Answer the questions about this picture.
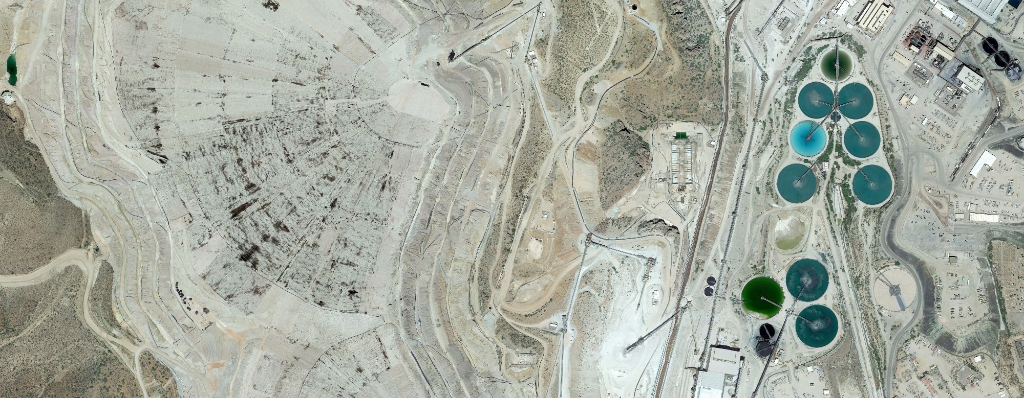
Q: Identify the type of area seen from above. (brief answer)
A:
industrial area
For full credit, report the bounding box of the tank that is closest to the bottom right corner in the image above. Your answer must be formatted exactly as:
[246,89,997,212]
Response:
[873,268,917,312]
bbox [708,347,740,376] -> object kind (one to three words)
building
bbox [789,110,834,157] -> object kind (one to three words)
storage tank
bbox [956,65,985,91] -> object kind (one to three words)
building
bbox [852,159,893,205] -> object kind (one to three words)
storage tank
